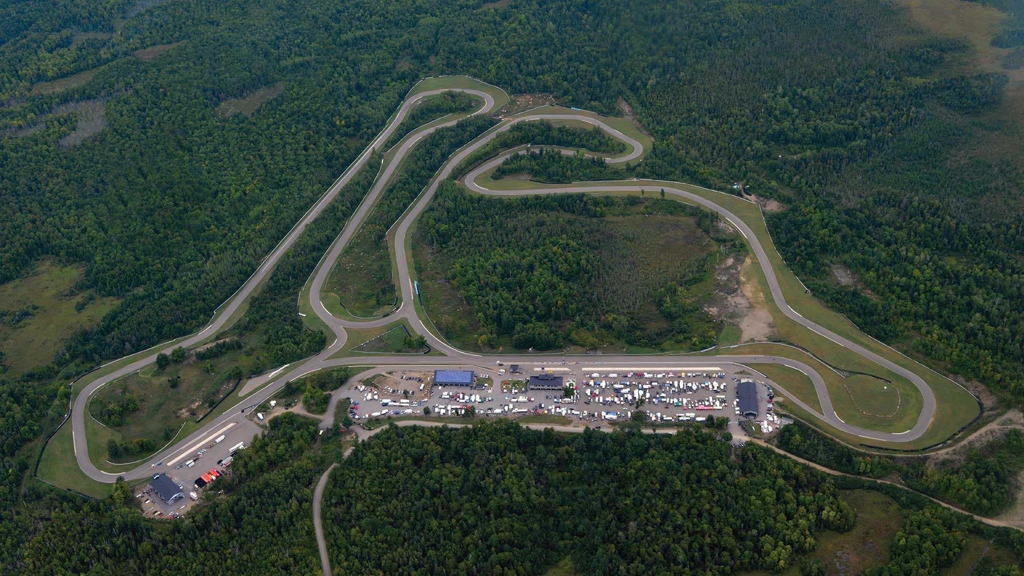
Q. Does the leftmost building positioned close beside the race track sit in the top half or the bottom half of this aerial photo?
bottom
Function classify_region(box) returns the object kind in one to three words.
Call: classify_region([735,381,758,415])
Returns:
building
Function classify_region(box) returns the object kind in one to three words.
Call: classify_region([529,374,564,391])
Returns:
building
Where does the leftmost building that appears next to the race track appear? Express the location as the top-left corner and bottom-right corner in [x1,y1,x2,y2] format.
[152,473,183,504]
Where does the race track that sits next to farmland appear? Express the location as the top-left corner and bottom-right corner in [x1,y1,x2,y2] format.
[72,89,935,485]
